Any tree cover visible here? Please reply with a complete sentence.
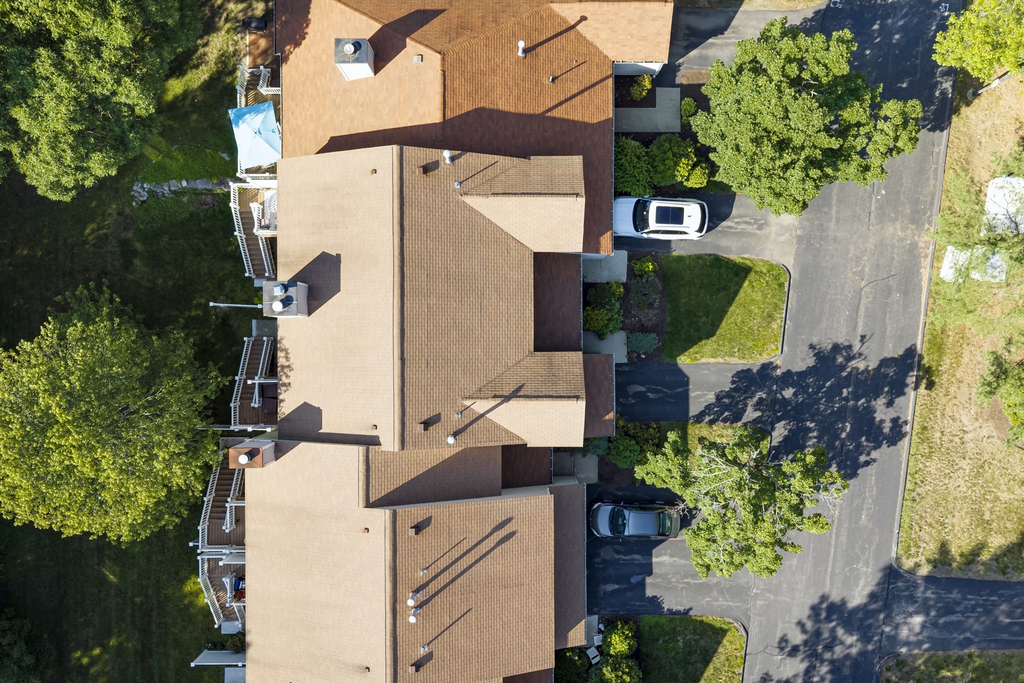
Yes, tree cover can be seen from above here.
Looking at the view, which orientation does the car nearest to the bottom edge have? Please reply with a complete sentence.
The car nearest to the bottom edge runs from left to right in the image.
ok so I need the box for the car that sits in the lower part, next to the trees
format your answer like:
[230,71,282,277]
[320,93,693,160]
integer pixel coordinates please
[590,501,680,543]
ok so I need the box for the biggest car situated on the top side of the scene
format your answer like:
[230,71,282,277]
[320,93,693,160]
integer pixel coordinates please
[616,193,709,241]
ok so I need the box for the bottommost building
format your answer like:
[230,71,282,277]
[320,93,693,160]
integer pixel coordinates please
[229,431,588,683]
